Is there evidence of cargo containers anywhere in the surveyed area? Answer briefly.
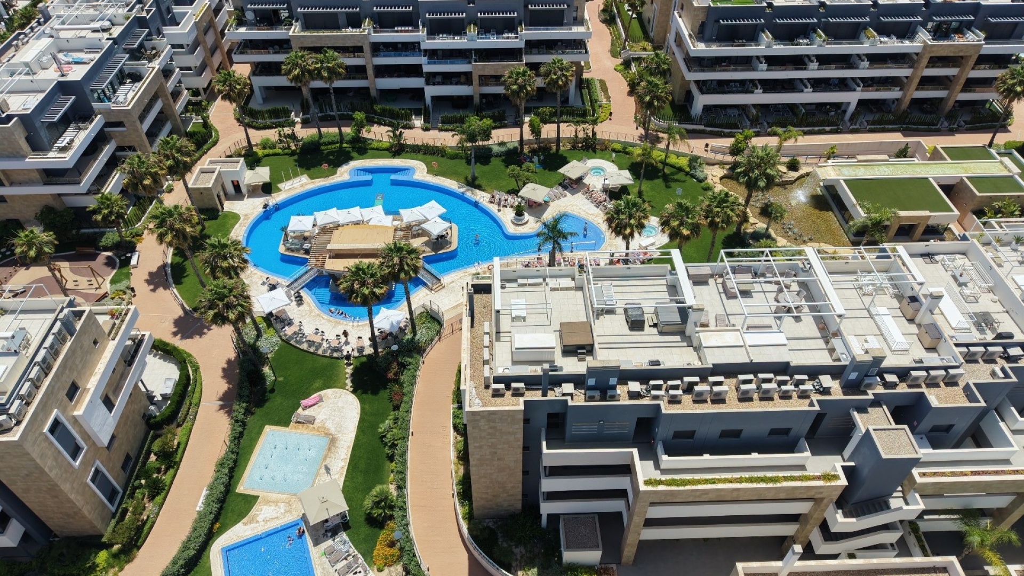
No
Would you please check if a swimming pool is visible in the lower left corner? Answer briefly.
Yes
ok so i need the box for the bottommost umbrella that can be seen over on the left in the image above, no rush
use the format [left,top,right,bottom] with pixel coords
[296,479,352,532]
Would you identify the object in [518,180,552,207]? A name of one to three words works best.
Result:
umbrella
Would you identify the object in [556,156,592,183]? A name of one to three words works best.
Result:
umbrella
